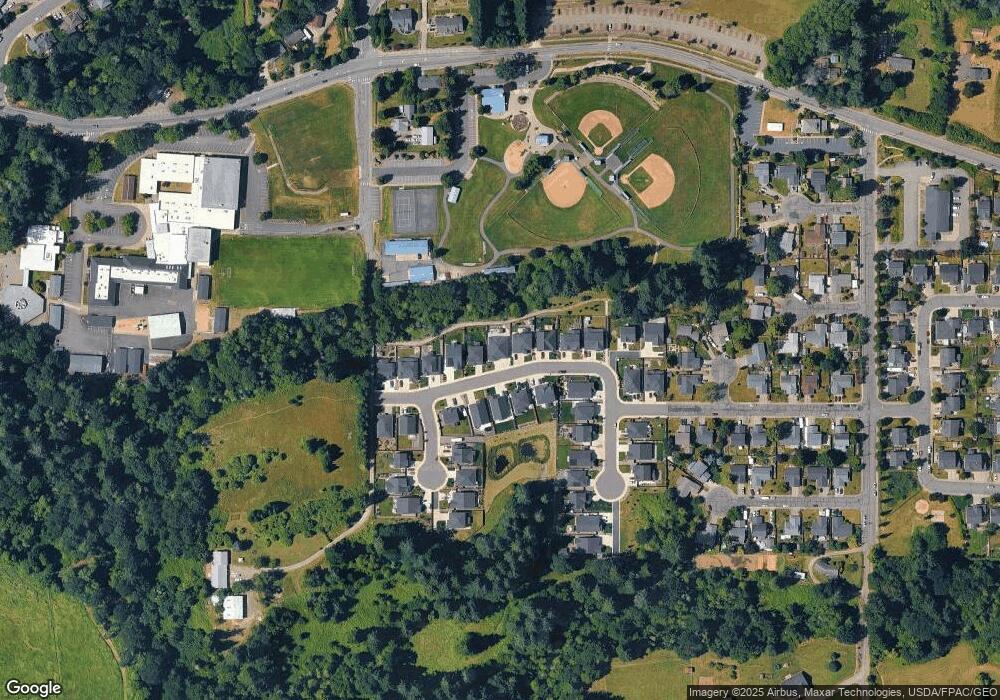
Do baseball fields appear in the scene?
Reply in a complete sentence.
Yes, this view includes a baseball field.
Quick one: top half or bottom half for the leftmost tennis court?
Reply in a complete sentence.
Seen from above, the leftmost tennis court lies in the top half of the view.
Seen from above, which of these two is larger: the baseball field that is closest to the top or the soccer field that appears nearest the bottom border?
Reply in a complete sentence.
It is the soccer field that is larger, not the baseball field.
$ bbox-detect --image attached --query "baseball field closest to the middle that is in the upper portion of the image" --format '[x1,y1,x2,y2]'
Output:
[508,160,622,242]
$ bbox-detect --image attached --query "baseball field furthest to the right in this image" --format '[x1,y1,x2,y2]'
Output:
[620,127,700,227]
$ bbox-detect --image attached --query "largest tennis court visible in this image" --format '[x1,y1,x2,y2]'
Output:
[392,188,438,234]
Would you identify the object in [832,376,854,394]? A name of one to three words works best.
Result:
house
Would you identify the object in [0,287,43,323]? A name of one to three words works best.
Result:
building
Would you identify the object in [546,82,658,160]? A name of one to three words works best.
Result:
baseball field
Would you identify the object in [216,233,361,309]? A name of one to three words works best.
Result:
soccer field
